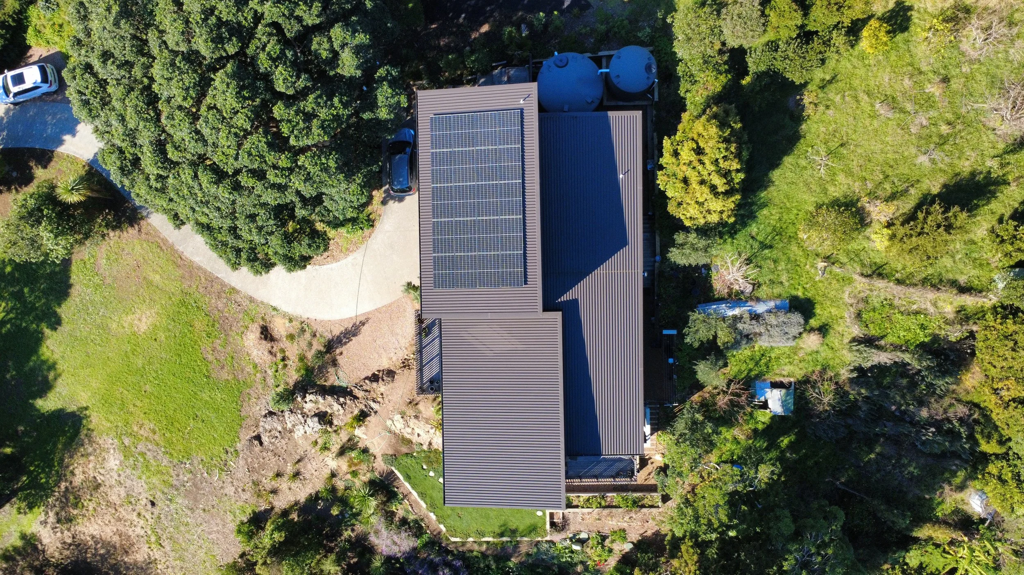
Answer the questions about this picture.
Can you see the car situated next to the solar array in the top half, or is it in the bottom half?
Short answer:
top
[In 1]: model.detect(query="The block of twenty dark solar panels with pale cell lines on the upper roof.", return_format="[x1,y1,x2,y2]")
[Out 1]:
[429,110,525,288]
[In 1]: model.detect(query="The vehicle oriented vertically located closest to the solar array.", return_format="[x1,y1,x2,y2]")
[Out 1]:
[382,126,416,195]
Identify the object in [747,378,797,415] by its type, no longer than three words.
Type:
shed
